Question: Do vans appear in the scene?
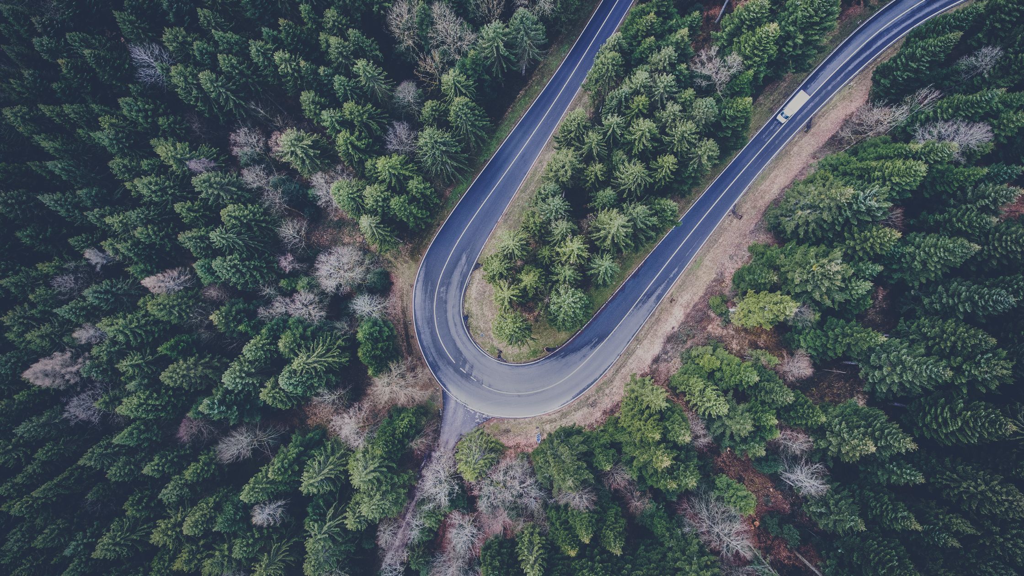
Yes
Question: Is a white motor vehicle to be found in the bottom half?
No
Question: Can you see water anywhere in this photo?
No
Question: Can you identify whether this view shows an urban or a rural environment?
rural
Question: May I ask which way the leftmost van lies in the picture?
at an angle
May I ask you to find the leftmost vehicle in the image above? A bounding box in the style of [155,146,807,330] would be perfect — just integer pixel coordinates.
[775,88,813,125]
